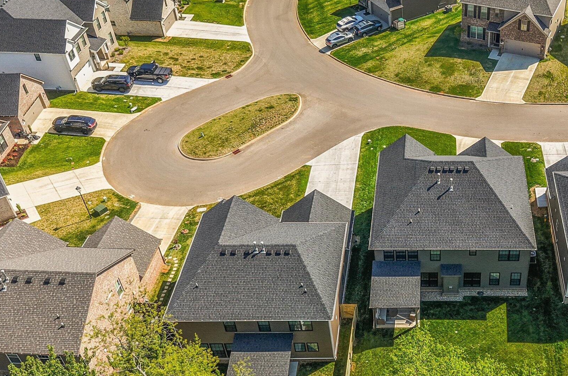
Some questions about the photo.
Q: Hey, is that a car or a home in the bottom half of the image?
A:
home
